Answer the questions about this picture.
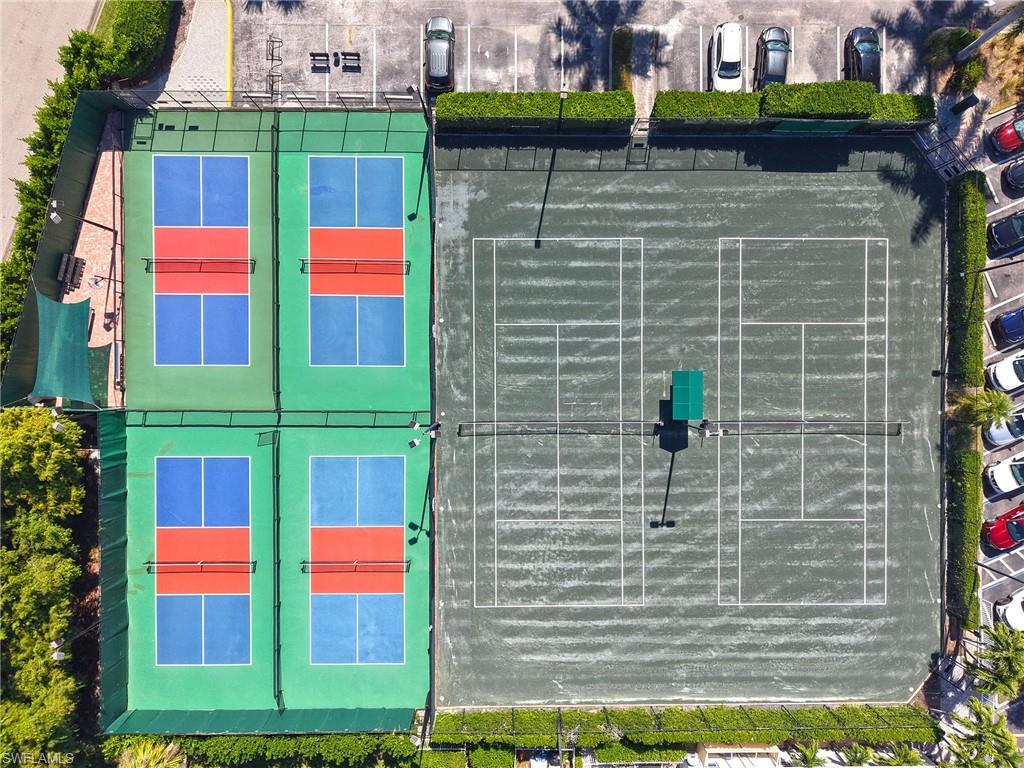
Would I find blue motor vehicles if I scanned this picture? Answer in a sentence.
Yes, looking at the shot, I can spot a blue motor vehicle.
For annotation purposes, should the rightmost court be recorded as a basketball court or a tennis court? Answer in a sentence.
I'd say the rightmost court is a tennis court.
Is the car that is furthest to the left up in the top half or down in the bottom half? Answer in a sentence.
The top half of the photo is where the car that is furthest to the left is.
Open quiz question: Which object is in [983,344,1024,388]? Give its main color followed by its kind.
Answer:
white car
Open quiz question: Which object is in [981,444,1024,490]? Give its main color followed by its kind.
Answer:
white car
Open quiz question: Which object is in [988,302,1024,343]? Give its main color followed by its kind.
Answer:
blue car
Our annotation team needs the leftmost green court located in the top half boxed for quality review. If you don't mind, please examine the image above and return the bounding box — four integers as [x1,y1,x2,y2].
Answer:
[123,110,277,411]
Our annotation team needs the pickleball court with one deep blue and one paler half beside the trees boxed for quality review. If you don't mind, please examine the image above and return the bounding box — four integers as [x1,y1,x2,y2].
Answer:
[128,413,278,709]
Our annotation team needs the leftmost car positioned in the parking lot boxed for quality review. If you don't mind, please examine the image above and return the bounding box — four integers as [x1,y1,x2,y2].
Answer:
[422,17,458,96]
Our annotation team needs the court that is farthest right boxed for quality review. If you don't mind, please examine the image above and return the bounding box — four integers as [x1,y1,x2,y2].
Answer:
[681,136,945,704]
